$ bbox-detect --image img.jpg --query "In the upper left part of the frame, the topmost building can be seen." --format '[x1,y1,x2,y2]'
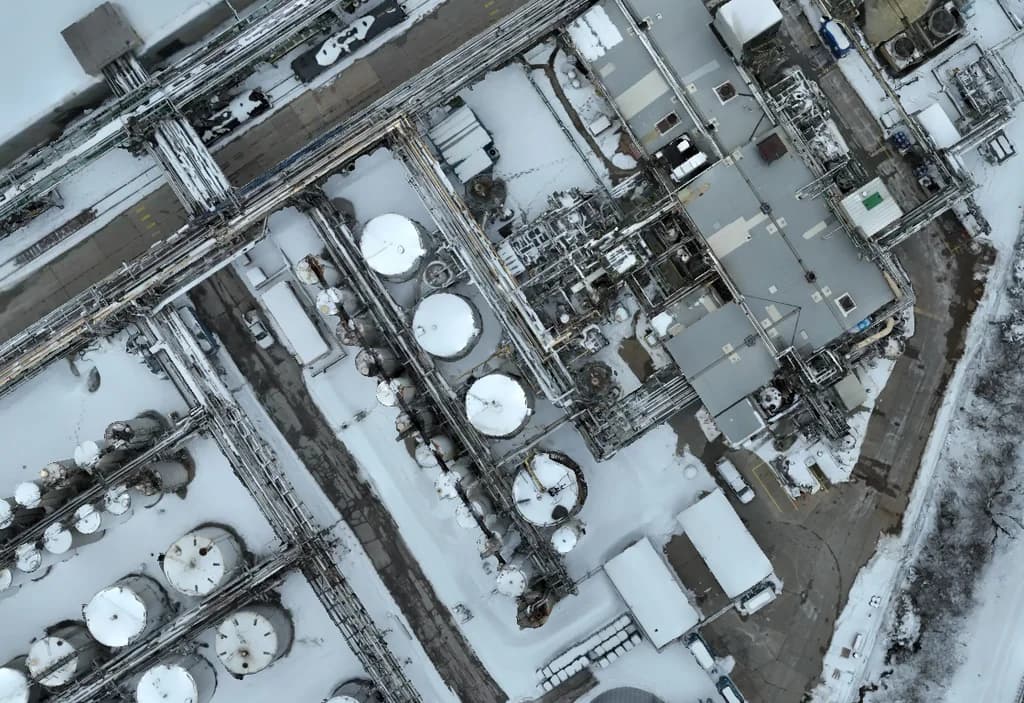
[61,2,148,78]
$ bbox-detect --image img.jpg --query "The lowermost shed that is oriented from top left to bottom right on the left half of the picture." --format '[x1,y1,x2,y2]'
[262,282,333,365]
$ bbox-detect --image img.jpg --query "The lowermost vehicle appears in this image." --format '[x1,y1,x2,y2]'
[713,671,748,703]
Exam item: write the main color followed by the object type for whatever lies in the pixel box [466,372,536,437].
white storage tank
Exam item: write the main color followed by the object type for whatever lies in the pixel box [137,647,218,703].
white storage tank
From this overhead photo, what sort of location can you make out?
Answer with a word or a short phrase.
industrial area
